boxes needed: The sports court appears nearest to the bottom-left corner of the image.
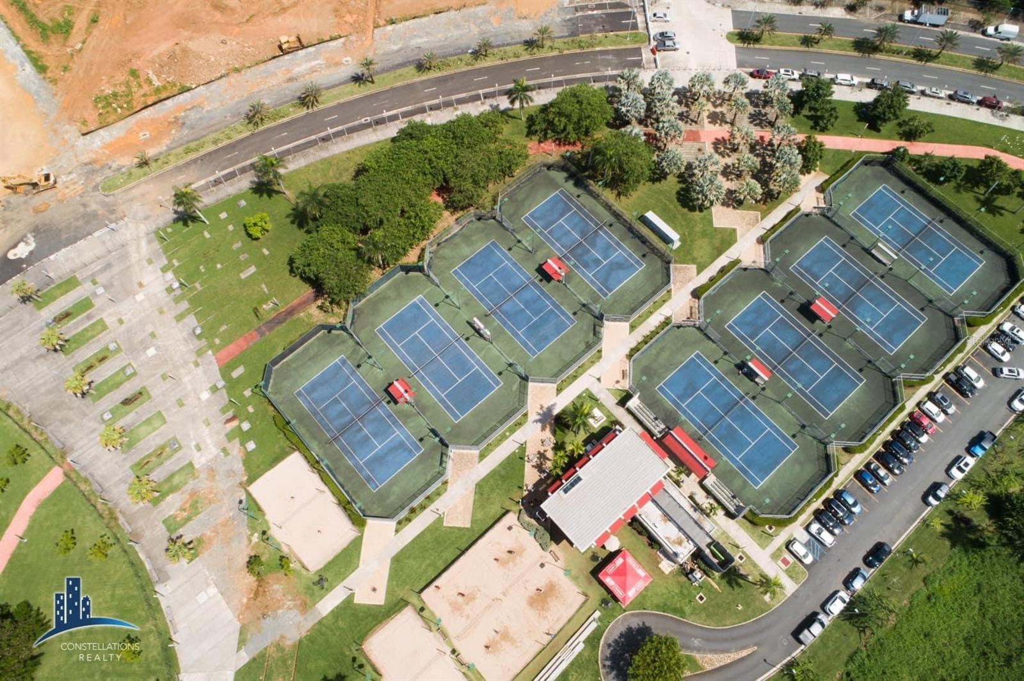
[248,452,360,572]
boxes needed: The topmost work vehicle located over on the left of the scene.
[278,34,303,53]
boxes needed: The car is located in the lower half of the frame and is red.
[908,409,936,435]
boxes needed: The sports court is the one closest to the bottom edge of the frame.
[362,606,471,681]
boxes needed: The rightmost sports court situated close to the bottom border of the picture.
[420,512,588,681]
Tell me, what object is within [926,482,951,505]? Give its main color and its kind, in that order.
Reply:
white car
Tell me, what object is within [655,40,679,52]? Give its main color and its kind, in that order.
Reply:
gray vehicle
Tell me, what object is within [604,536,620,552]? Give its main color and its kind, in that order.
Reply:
white umbrella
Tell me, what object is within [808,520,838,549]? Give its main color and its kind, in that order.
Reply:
white car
